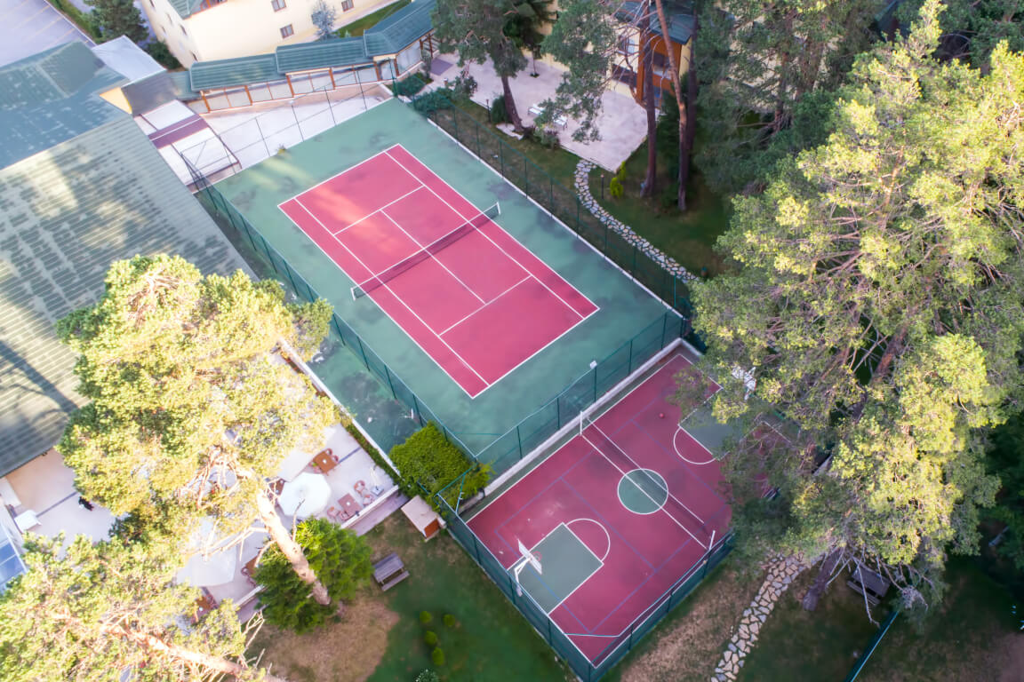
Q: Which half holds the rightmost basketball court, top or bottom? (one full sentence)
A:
The bottom half of the photo is where the rightmost basketball court is.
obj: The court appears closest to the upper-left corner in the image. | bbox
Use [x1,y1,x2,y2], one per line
[197,99,694,500]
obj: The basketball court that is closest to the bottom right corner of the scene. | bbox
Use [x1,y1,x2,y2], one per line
[448,340,819,682]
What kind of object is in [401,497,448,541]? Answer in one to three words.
shed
